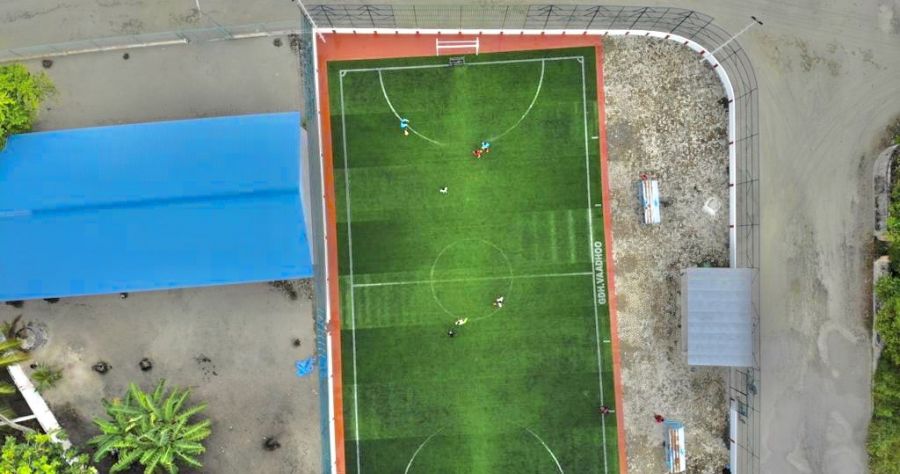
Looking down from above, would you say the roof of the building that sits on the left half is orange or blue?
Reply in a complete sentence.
In this view, the roof of the building that sits on the left half is blue.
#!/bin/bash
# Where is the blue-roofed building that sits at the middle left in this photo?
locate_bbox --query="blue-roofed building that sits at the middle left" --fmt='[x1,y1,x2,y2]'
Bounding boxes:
[0,110,314,305]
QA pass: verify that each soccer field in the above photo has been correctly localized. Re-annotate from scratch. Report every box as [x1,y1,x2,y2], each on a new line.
[318,34,627,474]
